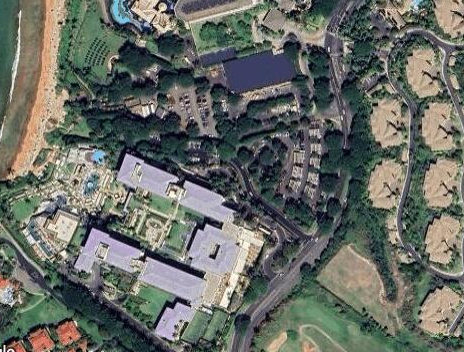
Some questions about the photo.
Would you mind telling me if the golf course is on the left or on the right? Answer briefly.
right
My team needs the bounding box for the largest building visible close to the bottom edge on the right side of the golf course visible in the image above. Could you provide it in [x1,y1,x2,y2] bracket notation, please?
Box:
[422,284,461,337]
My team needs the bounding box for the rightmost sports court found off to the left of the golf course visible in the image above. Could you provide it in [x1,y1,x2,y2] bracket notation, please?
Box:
[203,310,230,341]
